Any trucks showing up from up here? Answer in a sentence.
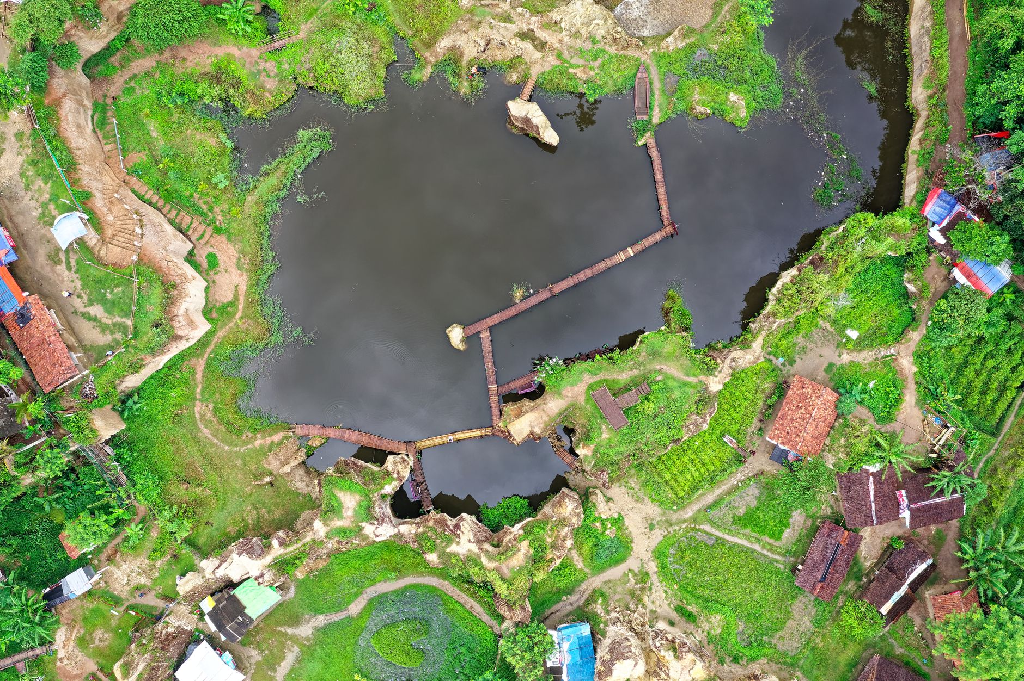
No, there is no truck in the image.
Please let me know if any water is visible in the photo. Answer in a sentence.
Yes, some water is visible.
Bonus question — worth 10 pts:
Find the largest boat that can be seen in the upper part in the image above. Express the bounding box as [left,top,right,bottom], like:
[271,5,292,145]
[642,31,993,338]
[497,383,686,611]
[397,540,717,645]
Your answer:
[635,56,650,120]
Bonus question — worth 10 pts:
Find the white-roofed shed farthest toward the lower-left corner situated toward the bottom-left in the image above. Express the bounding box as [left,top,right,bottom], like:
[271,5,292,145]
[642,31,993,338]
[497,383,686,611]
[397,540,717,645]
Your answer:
[44,566,109,609]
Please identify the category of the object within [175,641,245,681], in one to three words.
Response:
building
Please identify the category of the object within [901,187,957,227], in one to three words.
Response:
shed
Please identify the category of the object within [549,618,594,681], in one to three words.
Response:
house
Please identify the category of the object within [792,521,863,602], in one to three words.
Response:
house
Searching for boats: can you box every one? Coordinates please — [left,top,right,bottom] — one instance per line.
[671,221,680,235]
[635,56,650,120]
